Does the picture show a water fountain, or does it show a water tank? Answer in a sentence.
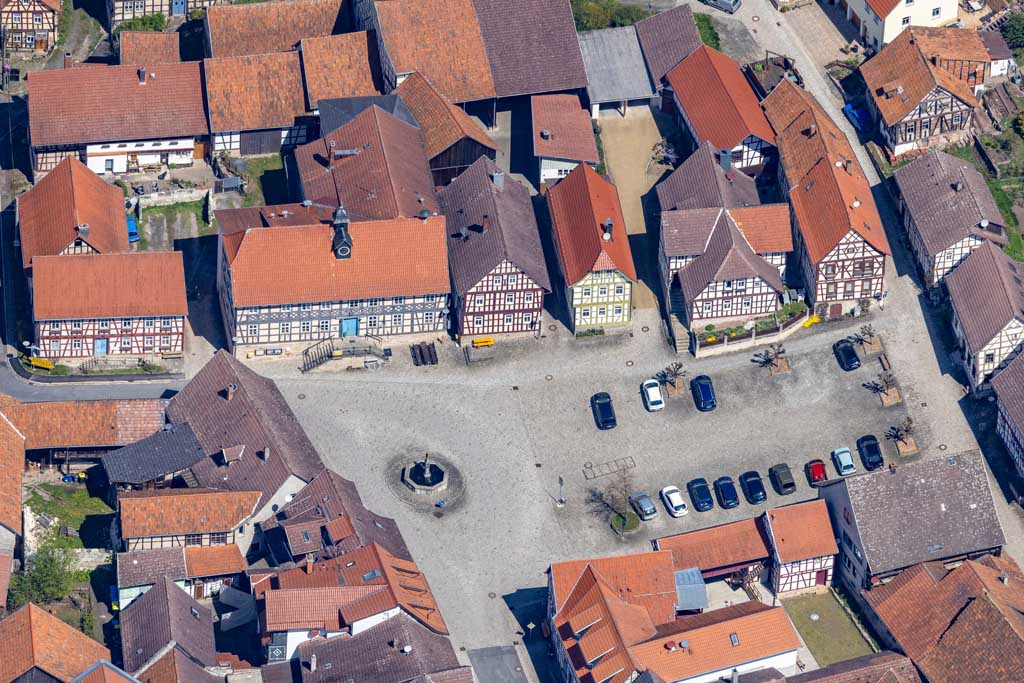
The image shows a water fountain.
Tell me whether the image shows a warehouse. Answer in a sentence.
Yes, this view includes a warehouse.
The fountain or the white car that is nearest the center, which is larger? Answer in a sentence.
The fountain takes up more space than the car does.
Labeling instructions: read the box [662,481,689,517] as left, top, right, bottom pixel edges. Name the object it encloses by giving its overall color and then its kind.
white car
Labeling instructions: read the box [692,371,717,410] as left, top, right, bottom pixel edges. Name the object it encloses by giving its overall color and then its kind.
blue car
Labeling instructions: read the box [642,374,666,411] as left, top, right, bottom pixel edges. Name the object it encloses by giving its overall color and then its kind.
white car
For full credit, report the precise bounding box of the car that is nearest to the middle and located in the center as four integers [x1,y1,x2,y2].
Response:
[592,390,615,426]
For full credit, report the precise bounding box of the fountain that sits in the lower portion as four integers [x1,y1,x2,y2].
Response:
[387,454,465,514]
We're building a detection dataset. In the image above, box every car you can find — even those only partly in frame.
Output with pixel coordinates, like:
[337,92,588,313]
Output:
[714,471,740,508]
[592,390,615,426]
[833,334,862,369]
[739,465,768,504]
[831,439,859,477]
[688,474,715,511]
[628,486,659,522]
[804,452,831,488]
[769,457,798,495]
[662,481,689,517]
[642,374,666,411]
[692,371,717,410]
[857,430,886,469]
